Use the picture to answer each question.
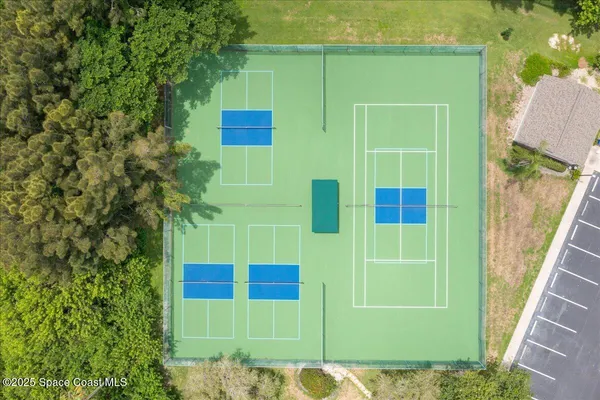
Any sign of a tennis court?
Yes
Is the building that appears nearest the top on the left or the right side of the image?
right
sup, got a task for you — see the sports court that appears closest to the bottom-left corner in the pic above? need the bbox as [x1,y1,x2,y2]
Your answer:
[182,224,234,339]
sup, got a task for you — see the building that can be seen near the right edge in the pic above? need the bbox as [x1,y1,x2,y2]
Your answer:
[509,75,600,171]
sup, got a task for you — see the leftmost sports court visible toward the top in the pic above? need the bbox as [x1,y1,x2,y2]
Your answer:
[220,71,273,185]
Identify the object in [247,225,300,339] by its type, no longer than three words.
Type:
sports court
